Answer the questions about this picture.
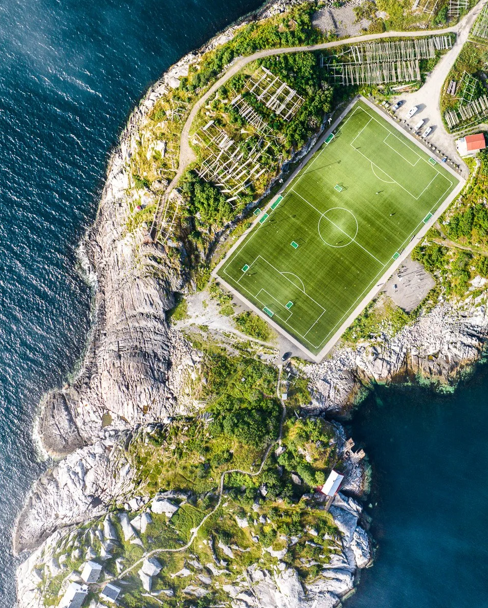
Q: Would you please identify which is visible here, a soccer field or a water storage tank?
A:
soccer field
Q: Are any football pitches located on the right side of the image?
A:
Yes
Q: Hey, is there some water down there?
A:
Yes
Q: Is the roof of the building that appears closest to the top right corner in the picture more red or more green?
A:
red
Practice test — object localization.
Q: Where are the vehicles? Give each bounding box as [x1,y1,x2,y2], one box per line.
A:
[282,352,289,361]
[422,126,432,138]
[406,104,418,118]
[414,119,425,131]
[394,101,402,110]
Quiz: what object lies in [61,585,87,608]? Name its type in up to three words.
shed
